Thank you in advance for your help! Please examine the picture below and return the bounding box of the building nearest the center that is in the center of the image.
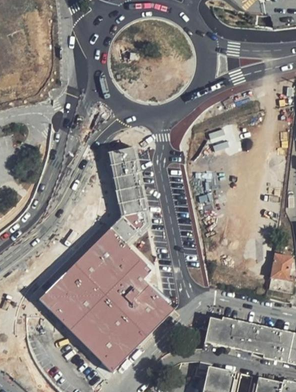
[108,147,150,244]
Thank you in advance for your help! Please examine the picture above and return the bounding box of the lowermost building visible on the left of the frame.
[38,230,174,374]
